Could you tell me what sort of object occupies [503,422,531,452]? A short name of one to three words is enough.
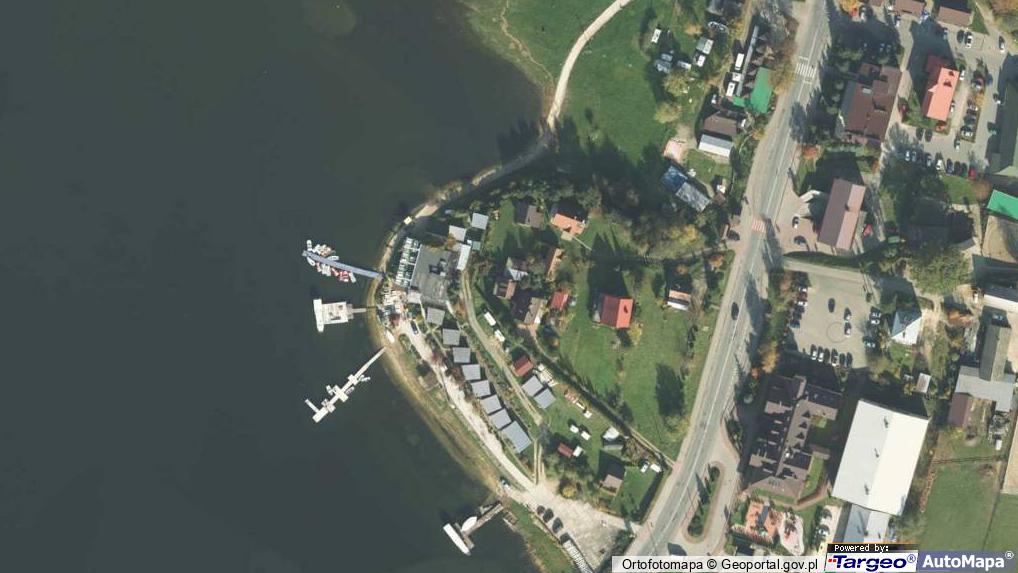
building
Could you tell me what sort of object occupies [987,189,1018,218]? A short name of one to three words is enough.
barn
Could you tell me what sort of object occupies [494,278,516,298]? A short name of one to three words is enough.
house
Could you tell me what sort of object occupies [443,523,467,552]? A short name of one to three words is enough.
boat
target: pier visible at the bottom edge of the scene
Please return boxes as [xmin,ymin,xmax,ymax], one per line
[453,502,505,549]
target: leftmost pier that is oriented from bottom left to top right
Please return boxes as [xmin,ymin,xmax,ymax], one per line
[307,351,383,423]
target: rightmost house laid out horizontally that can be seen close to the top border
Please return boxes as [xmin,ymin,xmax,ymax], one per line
[937,5,972,26]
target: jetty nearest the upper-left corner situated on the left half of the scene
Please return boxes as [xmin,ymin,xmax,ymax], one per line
[301,250,384,279]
